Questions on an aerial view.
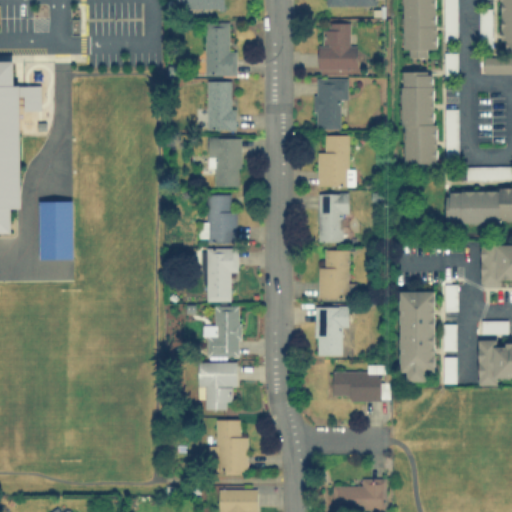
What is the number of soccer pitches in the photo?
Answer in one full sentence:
My tally gives 1 soccer pitch in this photo.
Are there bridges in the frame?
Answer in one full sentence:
No, I find no bridge anywhere in the image.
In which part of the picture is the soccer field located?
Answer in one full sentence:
Look in the bottom left portion of the view to spot the soccer field.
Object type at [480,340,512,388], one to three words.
building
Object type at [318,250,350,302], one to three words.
house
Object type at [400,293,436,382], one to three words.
building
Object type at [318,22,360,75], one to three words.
house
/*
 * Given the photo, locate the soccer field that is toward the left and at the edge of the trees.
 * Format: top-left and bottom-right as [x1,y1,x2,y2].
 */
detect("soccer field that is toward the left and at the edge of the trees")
[20,291,120,461]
